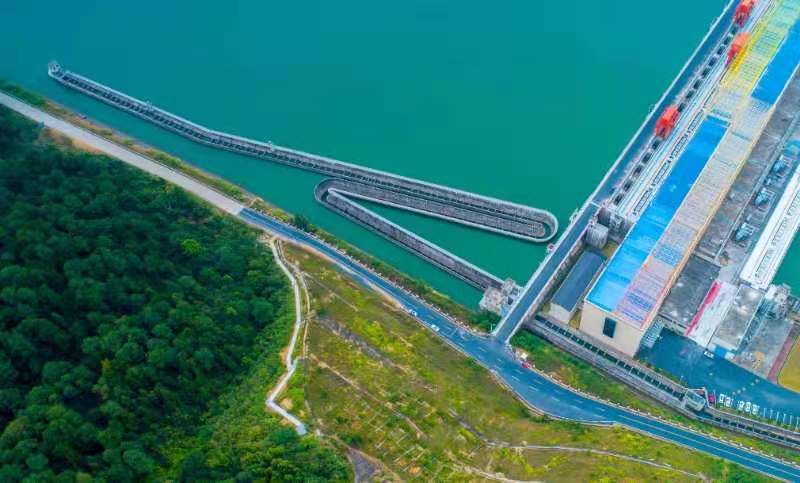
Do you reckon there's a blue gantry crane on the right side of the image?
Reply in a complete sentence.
No, there's no blue gantry crane to be seen on the right side of the image.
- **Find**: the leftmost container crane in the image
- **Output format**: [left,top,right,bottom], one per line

[654,104,681,140]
